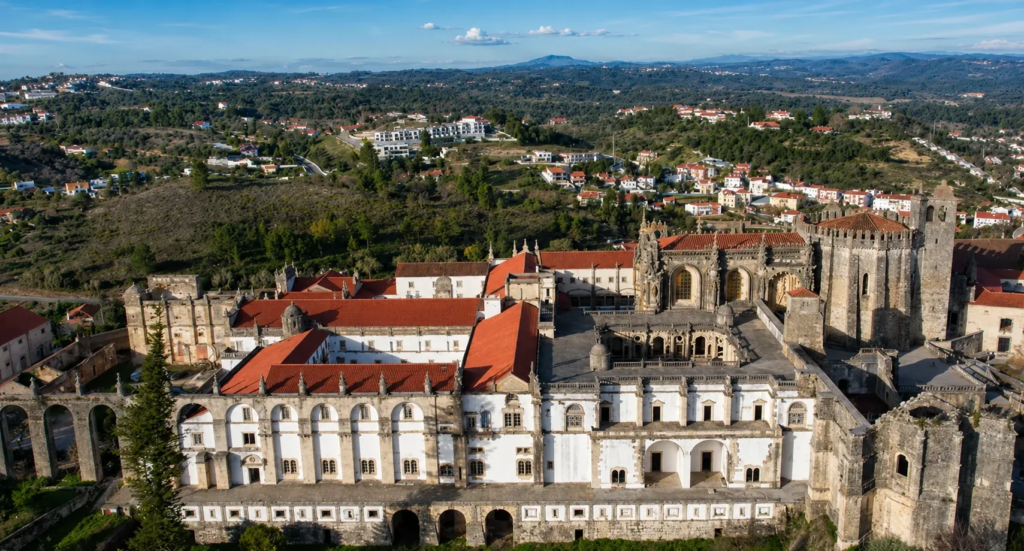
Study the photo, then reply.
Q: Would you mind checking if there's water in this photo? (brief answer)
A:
No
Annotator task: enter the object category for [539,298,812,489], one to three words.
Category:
building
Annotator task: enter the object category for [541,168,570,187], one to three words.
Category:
house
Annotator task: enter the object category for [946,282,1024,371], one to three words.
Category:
building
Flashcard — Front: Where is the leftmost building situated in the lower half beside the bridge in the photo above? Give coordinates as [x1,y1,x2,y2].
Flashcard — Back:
[0,303,61,384]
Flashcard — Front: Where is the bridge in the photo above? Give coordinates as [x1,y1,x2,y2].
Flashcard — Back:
[0,366,465,491]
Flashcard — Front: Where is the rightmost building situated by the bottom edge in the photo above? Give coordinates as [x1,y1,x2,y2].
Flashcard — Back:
[853,388,1024,551]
